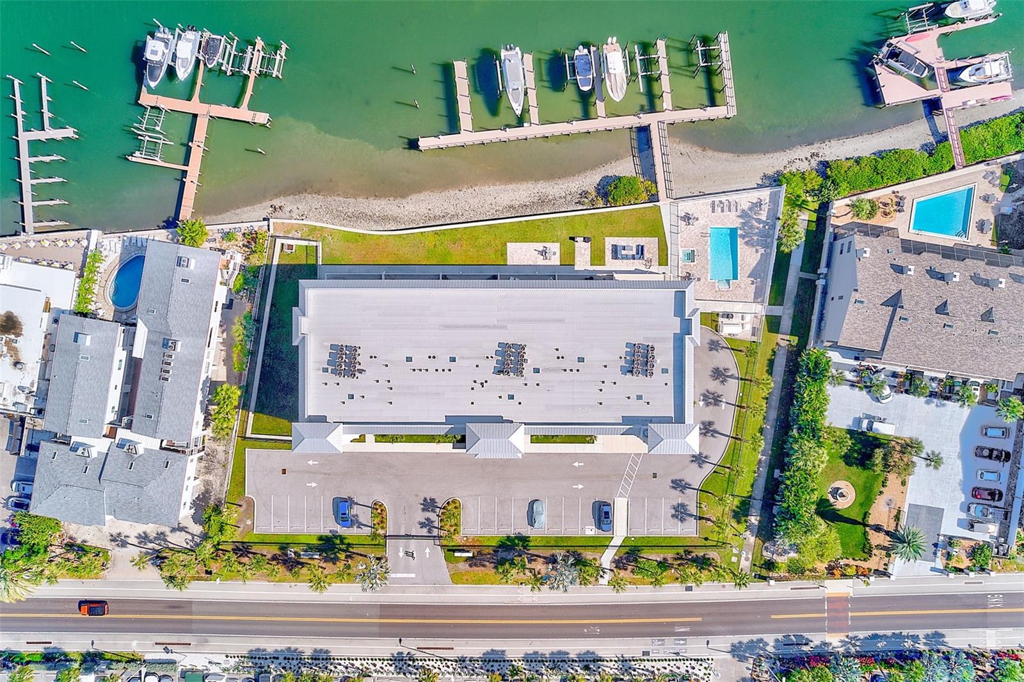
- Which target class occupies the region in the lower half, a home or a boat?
home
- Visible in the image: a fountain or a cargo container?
fountain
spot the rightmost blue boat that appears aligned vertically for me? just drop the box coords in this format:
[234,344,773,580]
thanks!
[574,42,592,91]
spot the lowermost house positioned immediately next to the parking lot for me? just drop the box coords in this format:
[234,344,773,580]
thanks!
[30,427,205,528]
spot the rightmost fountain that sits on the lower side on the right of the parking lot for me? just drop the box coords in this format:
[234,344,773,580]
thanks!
[828,480,855,507]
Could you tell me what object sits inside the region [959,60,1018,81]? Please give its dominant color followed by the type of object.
white boat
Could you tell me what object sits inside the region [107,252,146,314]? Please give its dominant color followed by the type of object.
blue swimming pool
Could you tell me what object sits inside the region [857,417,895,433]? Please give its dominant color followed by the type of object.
white vehicle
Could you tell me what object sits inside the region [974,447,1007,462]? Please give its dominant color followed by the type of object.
black car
